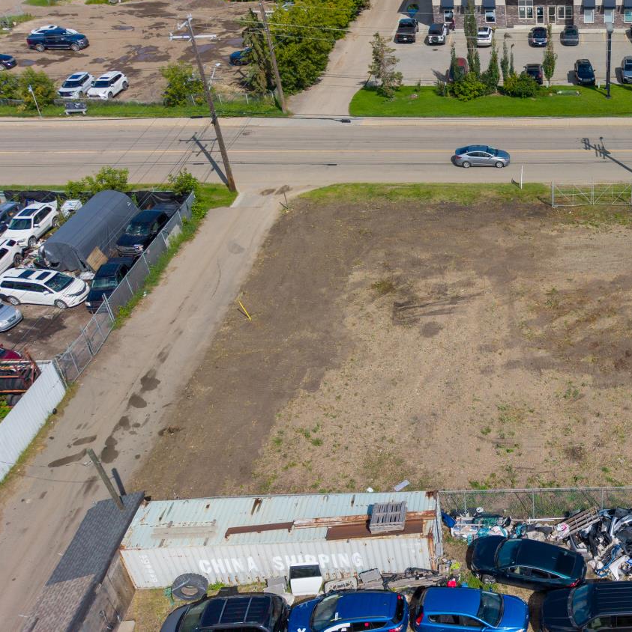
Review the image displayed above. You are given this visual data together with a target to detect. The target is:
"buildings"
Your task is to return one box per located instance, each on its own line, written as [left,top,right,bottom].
[427,0,632,29]
[20,492,149,632]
